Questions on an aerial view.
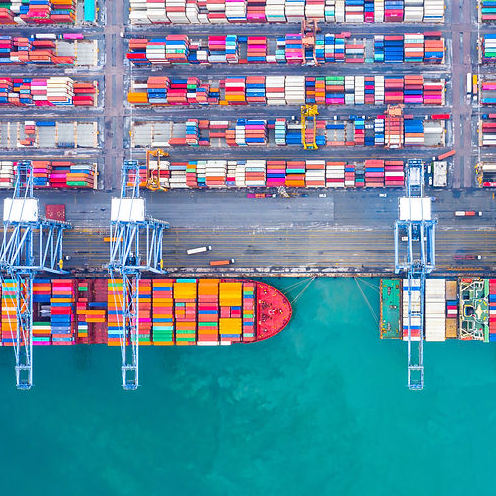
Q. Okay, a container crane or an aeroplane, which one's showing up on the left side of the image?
container crane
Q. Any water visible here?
Yes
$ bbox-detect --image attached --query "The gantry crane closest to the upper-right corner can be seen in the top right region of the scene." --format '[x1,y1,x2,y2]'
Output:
[385,103,404,151]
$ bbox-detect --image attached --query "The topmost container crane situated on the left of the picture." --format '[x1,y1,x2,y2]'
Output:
[146,147,171,192]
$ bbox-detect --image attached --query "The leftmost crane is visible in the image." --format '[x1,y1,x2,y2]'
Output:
[0,159,75,392]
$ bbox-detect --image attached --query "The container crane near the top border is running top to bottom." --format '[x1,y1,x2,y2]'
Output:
[303,17,321,67]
